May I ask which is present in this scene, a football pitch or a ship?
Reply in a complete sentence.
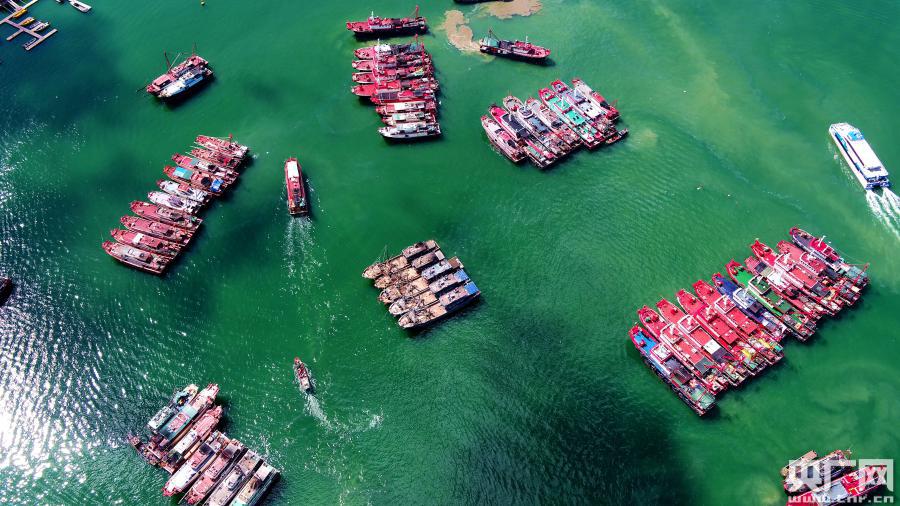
This aerial view contains a ship.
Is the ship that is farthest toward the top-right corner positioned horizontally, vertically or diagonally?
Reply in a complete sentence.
From this overhead view, the ship that is farthest toward the top-right corner appears to run diagonally.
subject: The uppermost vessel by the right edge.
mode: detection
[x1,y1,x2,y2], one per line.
[826,124,889,192]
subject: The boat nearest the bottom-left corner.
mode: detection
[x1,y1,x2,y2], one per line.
[128,435,167,473]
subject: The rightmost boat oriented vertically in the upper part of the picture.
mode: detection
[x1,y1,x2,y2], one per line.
[283,157,308,220]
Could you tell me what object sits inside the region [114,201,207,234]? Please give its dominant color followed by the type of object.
pink boat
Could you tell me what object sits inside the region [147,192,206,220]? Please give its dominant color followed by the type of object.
white boat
